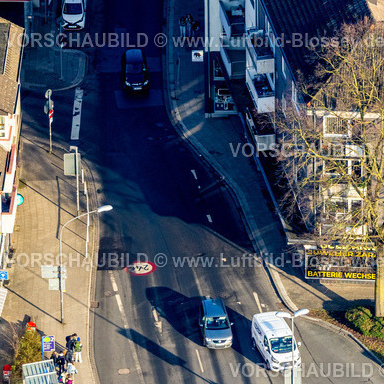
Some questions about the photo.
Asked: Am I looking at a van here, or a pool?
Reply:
van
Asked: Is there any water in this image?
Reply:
No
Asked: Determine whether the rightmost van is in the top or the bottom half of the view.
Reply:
bottom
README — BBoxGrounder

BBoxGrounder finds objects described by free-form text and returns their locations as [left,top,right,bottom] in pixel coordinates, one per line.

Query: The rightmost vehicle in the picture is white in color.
[242,298,299,368]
